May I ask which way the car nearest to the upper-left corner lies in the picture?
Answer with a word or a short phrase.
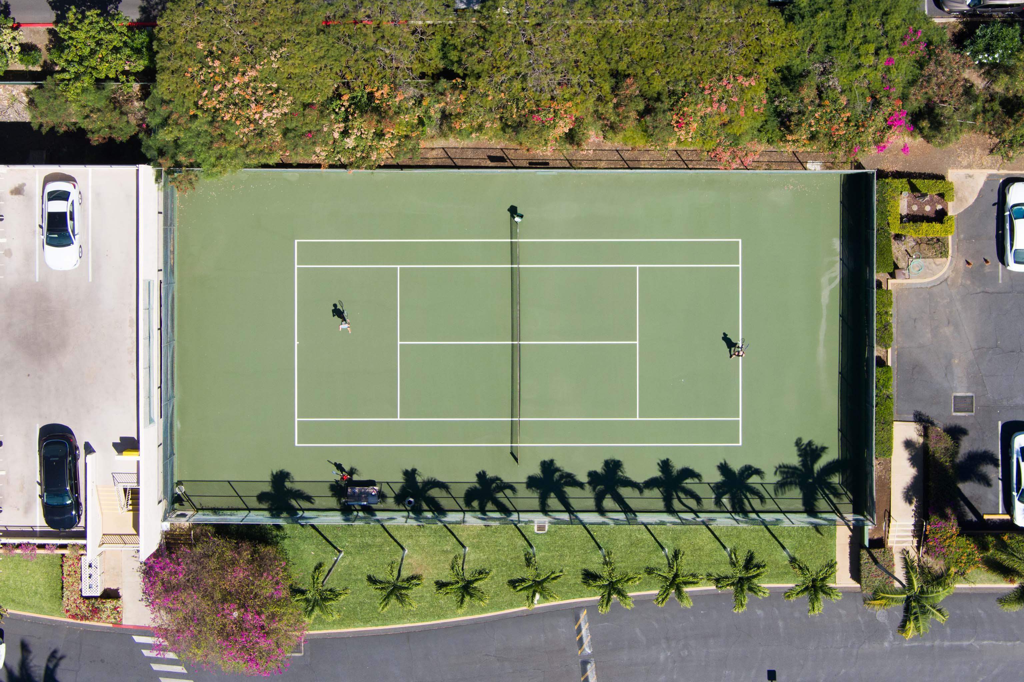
vertically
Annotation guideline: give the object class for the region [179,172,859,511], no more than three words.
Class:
tennis court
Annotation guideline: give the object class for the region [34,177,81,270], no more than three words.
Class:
car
